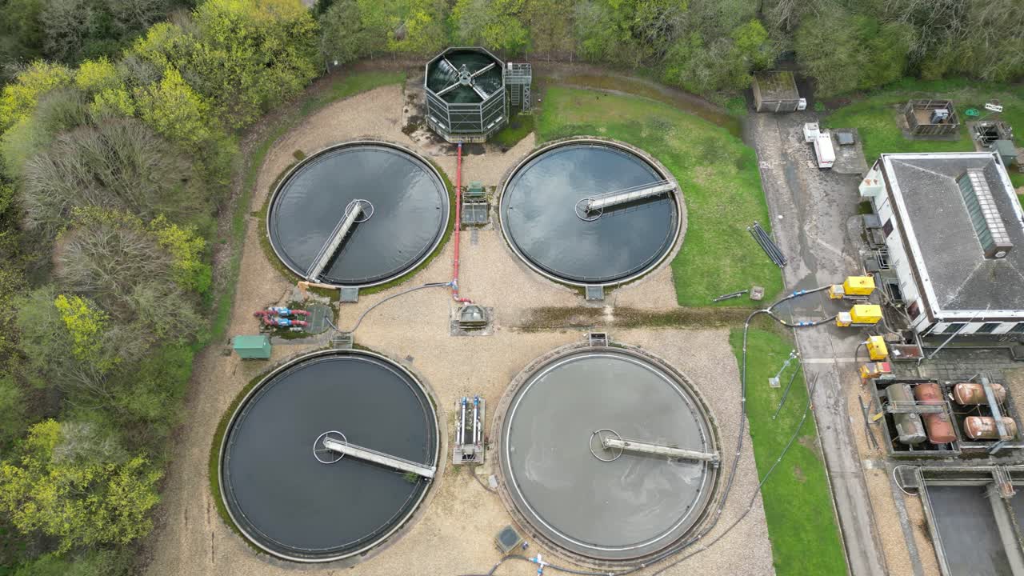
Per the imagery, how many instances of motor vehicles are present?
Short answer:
2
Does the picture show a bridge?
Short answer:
Yes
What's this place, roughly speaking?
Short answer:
industrial area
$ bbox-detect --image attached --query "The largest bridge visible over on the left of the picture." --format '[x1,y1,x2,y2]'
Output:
[318,434,437,487]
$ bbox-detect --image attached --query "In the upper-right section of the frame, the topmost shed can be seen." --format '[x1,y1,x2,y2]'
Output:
[754,68,803,112]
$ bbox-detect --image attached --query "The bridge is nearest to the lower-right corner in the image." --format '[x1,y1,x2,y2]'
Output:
[602,432,726,474]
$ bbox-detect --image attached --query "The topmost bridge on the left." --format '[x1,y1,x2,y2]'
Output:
[305,194,365,284]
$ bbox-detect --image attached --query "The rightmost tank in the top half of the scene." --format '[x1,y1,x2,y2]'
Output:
[498,138,682,300]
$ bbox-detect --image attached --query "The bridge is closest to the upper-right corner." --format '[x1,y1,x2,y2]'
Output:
[585,174,682,212]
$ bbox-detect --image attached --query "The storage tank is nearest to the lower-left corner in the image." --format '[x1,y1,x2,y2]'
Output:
[218,330,440,564]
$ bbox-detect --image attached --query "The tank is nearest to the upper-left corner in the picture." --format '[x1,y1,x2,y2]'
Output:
[267,141,451,302]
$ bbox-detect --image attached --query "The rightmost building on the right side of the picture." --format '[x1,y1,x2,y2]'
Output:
[863,152,1024,346]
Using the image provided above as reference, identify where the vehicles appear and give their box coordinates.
[800,118,826,148]
[812,134,842,173]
